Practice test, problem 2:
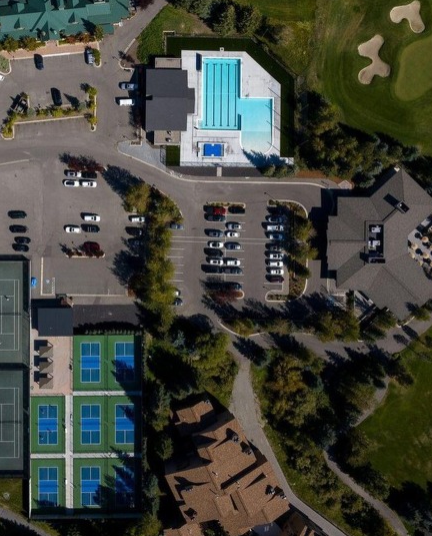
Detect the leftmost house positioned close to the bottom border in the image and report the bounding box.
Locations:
[160,397,291,536]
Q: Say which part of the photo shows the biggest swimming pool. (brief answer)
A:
top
